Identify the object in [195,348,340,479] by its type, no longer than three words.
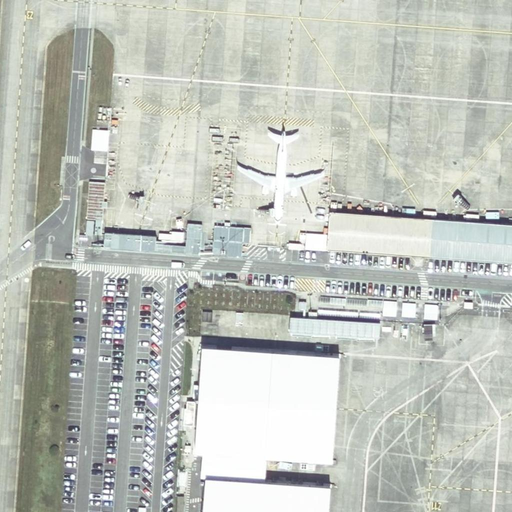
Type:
hangar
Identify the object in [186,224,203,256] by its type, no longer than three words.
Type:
building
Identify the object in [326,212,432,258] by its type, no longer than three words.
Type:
shed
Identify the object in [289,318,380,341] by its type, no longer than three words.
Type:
building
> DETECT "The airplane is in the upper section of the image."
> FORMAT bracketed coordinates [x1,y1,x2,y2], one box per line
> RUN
[238,130,324,222]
